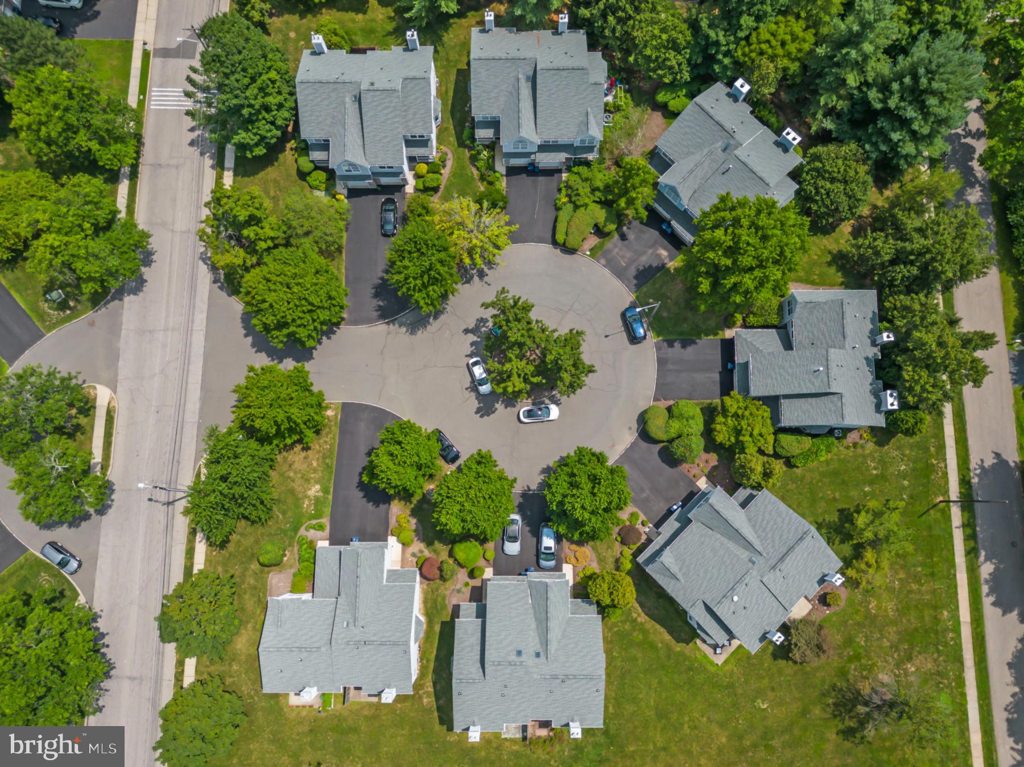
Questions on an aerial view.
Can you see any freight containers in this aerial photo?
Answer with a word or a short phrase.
No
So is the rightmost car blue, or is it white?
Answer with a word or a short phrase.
blue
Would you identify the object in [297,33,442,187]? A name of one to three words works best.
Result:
house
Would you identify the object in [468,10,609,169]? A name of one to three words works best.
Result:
house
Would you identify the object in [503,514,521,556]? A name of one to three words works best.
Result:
car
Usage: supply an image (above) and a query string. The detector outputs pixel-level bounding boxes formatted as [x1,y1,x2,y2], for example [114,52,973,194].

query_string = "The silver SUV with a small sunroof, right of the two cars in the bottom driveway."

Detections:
[538,525,557,568]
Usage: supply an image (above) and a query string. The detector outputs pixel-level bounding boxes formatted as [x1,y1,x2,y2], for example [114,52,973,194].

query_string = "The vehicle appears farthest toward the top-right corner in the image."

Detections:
[623,307,647,343]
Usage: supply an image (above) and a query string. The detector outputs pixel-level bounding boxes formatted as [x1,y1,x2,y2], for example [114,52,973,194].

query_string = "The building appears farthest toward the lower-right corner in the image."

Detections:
[634,485,843,654]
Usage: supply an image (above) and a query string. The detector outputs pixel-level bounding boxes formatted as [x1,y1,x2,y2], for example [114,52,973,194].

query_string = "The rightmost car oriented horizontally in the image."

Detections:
[519,404,559,423]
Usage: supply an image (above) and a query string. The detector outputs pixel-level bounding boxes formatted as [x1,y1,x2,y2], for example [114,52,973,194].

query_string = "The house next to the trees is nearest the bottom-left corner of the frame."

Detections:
[259,542,425,702]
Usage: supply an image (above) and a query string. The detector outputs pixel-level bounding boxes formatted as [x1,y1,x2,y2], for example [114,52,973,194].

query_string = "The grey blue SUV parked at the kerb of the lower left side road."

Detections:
[37,543,81,574]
